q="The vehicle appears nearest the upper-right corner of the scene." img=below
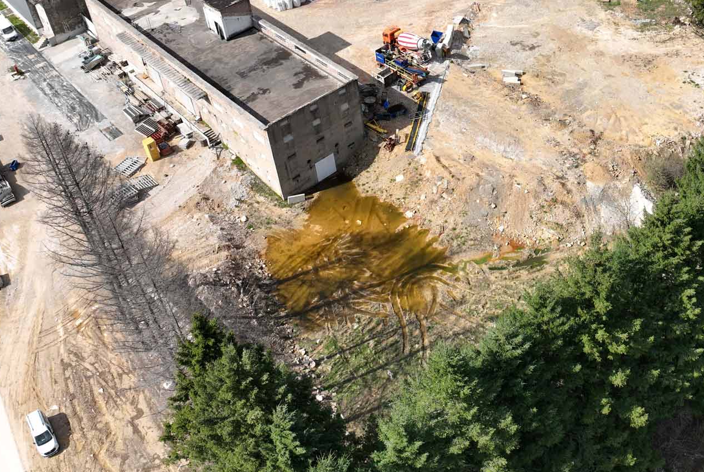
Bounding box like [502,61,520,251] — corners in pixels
[381,25,444,63]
